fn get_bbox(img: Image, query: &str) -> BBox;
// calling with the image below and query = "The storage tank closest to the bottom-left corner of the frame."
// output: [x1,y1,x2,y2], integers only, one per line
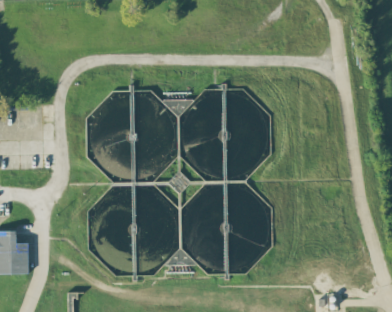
[88,183,180,280]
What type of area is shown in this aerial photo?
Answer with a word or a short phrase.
industrial area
